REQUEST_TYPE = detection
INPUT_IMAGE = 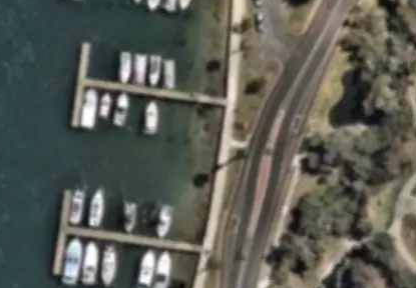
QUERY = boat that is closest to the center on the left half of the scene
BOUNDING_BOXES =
[145,101,157,137]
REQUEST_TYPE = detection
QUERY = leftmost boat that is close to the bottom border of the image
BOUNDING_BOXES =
[63,238,81,287]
